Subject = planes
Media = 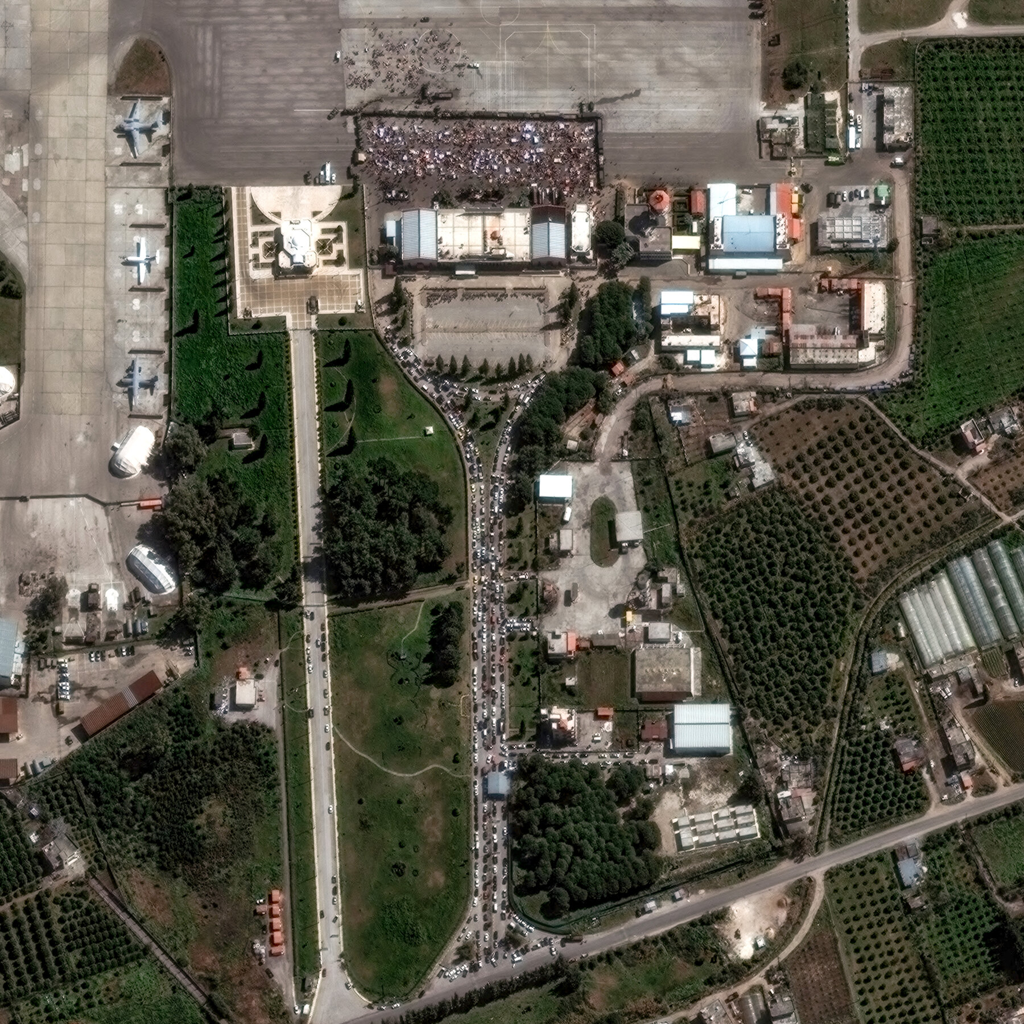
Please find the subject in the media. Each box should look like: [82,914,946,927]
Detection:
[116,357,159,405]
[125,237,160,280]
[115,101,155,150]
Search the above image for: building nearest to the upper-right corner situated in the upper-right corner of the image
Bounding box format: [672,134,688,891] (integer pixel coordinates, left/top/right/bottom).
[883,87,913,152]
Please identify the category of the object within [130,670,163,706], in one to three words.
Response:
shed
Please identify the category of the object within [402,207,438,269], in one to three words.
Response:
hangar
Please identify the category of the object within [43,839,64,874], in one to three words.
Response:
house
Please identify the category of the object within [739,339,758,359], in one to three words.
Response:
building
